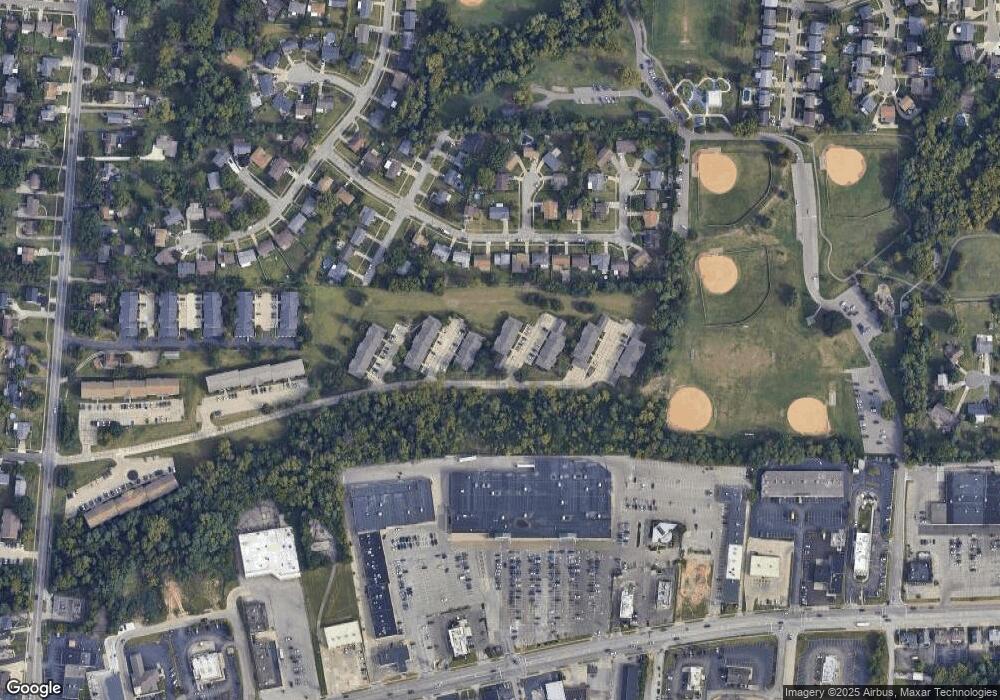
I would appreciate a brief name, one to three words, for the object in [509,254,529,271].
house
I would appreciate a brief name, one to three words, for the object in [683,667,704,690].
building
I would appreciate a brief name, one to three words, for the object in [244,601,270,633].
shed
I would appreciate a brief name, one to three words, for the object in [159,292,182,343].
building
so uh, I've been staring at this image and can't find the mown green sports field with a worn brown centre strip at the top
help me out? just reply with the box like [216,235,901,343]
[653,0,734,48]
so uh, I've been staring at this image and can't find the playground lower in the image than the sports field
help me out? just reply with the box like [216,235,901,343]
[681,82,728,111]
